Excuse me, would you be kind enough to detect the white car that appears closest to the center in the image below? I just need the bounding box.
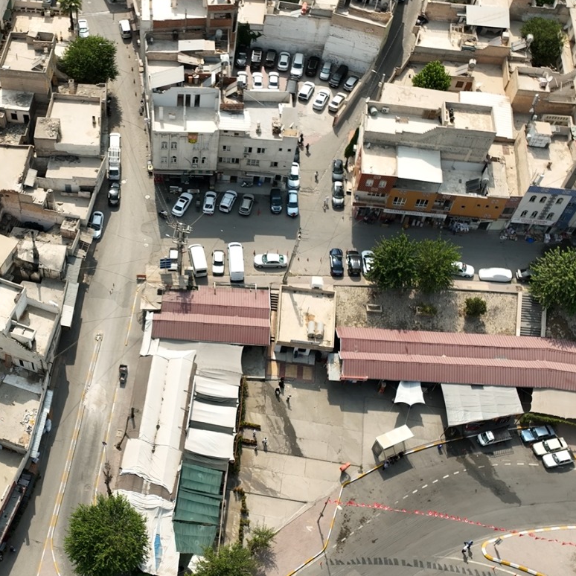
[254,253,287,269]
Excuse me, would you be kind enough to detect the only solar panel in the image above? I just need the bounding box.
[157,256,173,272]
